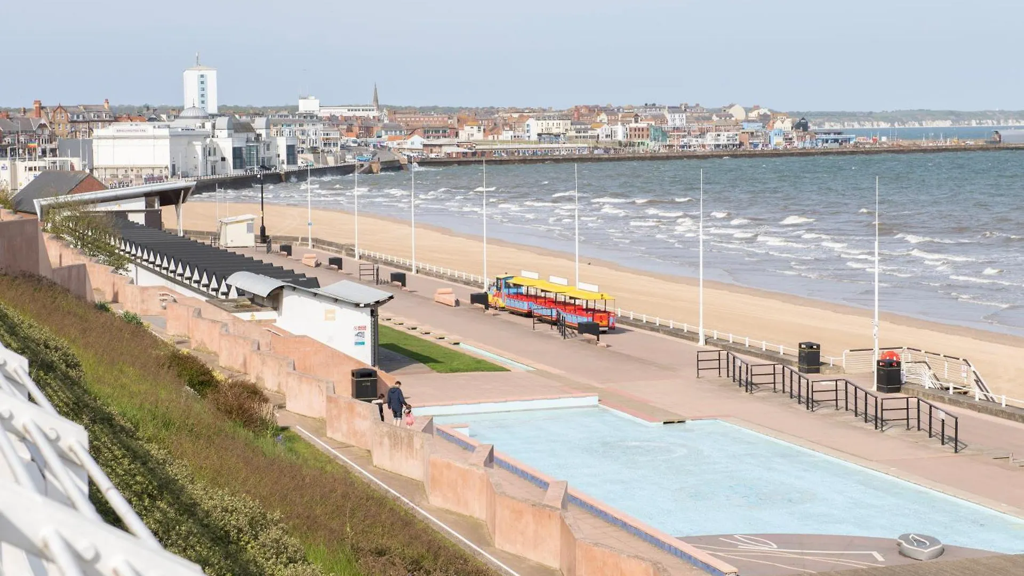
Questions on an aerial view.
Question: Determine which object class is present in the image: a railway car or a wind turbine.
railway car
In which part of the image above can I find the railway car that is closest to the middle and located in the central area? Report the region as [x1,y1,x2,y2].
[502,272,553,319]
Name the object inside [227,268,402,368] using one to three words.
building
